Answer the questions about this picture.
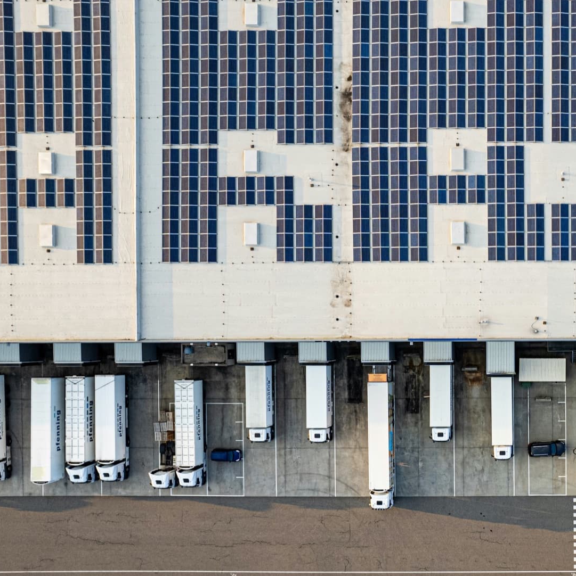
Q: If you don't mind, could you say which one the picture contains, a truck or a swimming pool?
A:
truck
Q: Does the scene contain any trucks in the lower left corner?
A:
Yes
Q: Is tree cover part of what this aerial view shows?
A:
No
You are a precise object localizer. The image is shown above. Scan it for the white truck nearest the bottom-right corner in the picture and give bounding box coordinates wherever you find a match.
[490,378,515,460]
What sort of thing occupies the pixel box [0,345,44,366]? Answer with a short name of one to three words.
house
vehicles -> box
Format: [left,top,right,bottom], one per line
[95,374,132,481]
[307,365,334,443]
[173,379,208,487]
[64,376,101,483]
[429,365,455,442]
[528,441,566,458]
[148,440,181,489]
[0,374,14,481]
[208,448,242,464]
[368,366,395,508]
[490,378,515,460]
[246,361,276,442]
